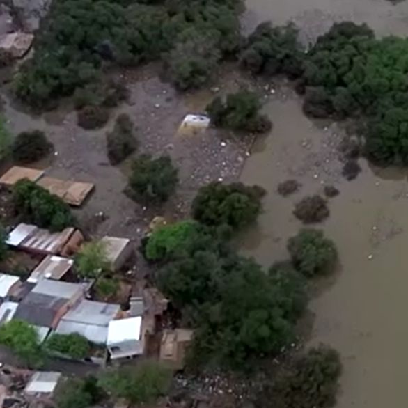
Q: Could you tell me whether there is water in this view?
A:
Yes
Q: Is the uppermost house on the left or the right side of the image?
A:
left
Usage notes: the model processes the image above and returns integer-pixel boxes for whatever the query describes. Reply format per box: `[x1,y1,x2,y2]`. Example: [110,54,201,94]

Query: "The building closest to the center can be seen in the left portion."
[100,237,134,274]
